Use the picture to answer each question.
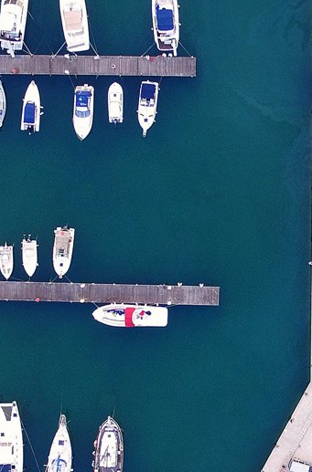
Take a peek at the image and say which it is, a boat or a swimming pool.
boat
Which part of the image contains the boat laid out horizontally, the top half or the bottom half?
bottom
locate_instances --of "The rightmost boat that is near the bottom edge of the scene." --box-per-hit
[92,416,123,472]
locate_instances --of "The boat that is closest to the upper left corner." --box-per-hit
[0,0,28,57]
